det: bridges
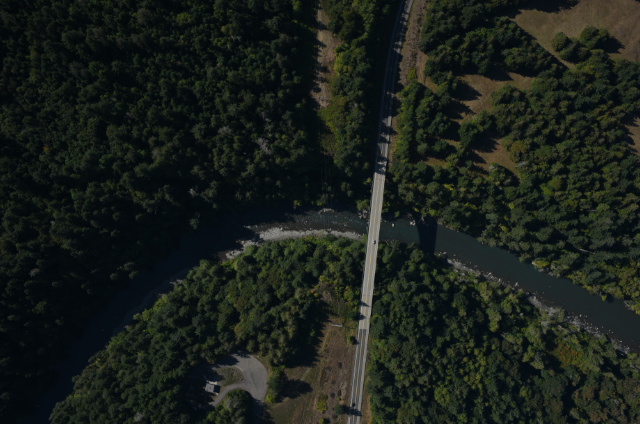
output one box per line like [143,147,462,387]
[359,179,384,328]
